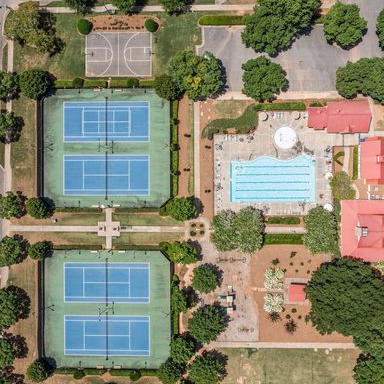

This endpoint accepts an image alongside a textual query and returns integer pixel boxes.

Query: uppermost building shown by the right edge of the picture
[306,101,371,135]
